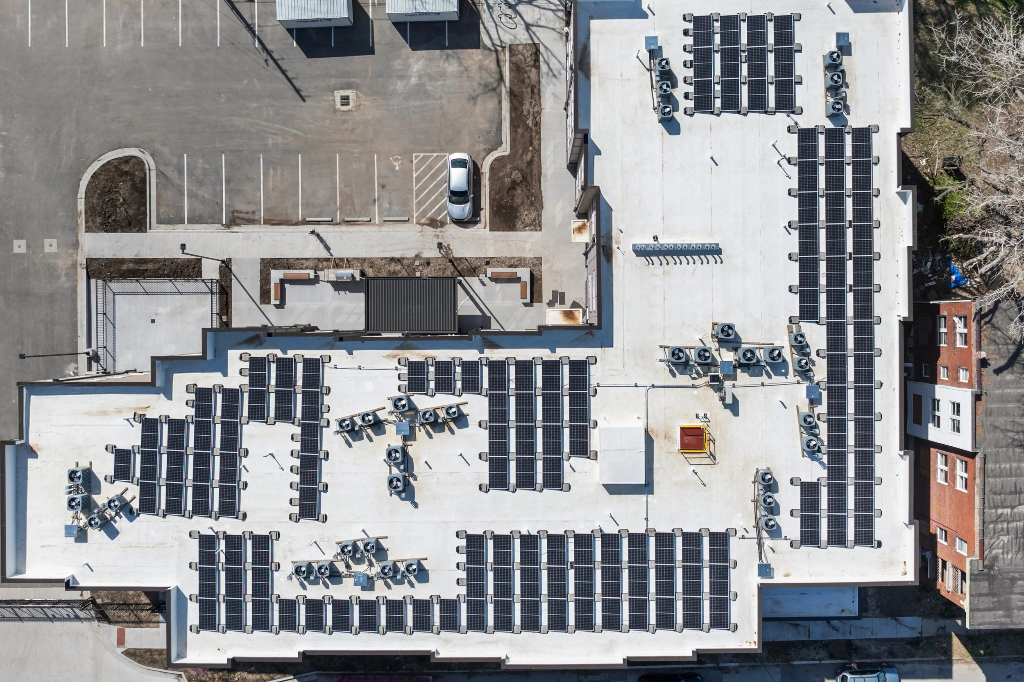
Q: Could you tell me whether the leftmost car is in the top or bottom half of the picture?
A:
top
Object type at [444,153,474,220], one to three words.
car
